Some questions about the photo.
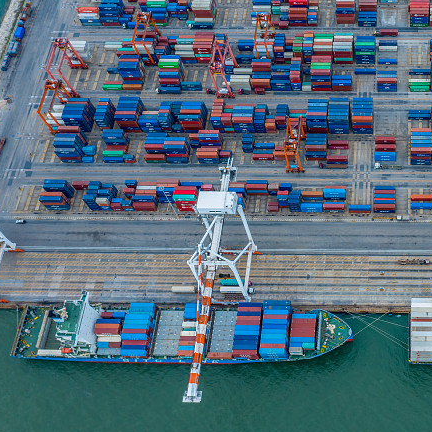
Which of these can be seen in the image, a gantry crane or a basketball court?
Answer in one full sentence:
I can see a gantry crane in this picture.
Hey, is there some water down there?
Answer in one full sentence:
Yes, some water is visible.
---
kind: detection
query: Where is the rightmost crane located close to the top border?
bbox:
[254,10,277,66]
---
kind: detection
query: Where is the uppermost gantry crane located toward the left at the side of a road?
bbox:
[134,10,166,66]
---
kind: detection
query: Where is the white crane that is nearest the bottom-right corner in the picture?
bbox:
[182,157,265,399]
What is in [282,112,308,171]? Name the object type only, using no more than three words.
container crane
